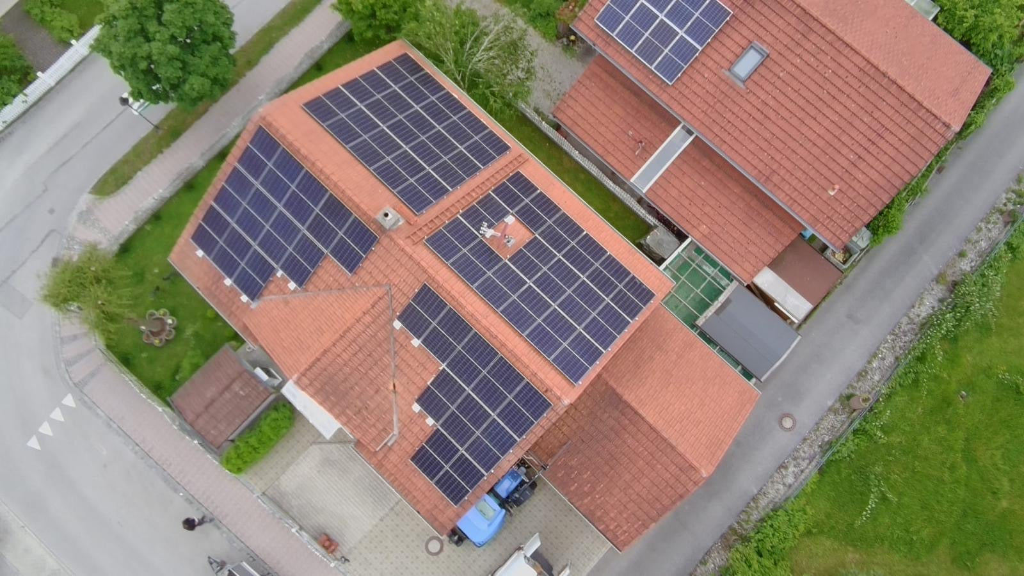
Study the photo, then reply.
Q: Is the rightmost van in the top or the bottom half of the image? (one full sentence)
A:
The rightmost van is in the bottom half of the image.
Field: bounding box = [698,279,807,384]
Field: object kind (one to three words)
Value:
shed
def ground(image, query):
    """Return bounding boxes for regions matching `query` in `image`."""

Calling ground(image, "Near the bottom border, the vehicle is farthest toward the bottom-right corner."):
[498,522,577,576]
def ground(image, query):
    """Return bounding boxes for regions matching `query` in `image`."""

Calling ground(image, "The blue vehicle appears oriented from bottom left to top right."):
[451,469,536,549]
